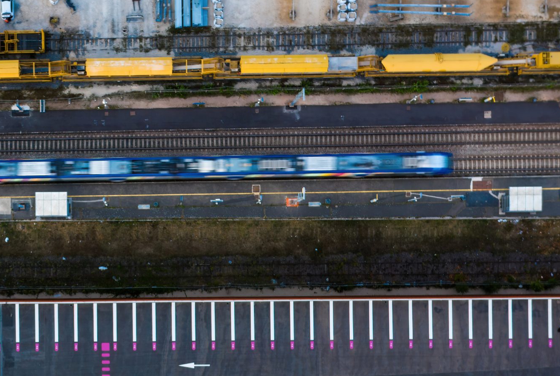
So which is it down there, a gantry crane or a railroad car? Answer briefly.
railroad car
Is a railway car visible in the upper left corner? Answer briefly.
Yes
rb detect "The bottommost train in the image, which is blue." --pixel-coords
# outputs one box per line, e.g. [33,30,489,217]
[0,150,453,181]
